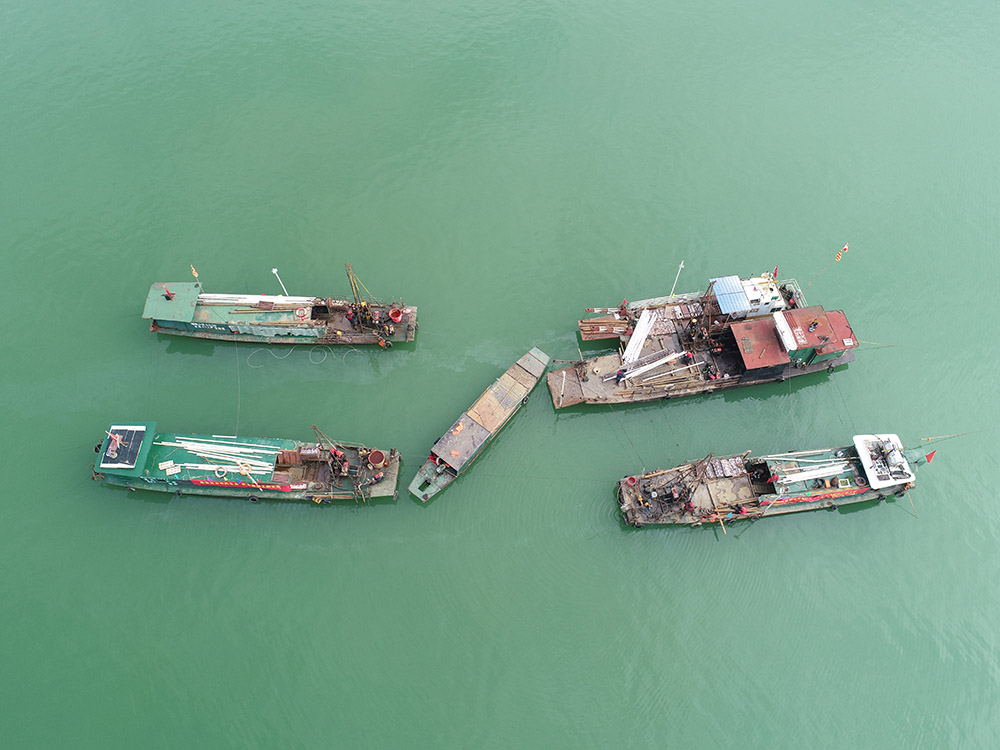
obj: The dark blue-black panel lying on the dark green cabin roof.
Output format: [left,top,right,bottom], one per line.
[104,430,146,464]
